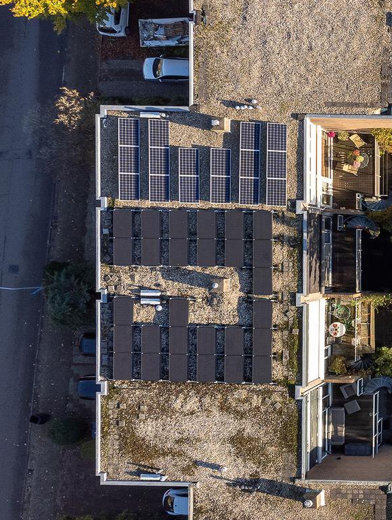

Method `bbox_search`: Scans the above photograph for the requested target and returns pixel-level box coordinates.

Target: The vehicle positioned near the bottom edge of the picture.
[161,485,189,517]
